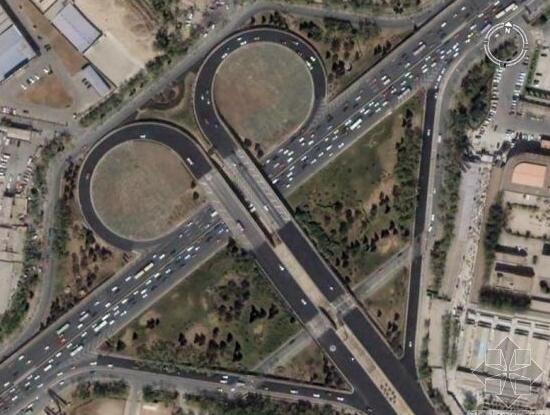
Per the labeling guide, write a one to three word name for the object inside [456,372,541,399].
shed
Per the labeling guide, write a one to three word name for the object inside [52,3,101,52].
building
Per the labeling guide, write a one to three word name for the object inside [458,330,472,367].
shed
